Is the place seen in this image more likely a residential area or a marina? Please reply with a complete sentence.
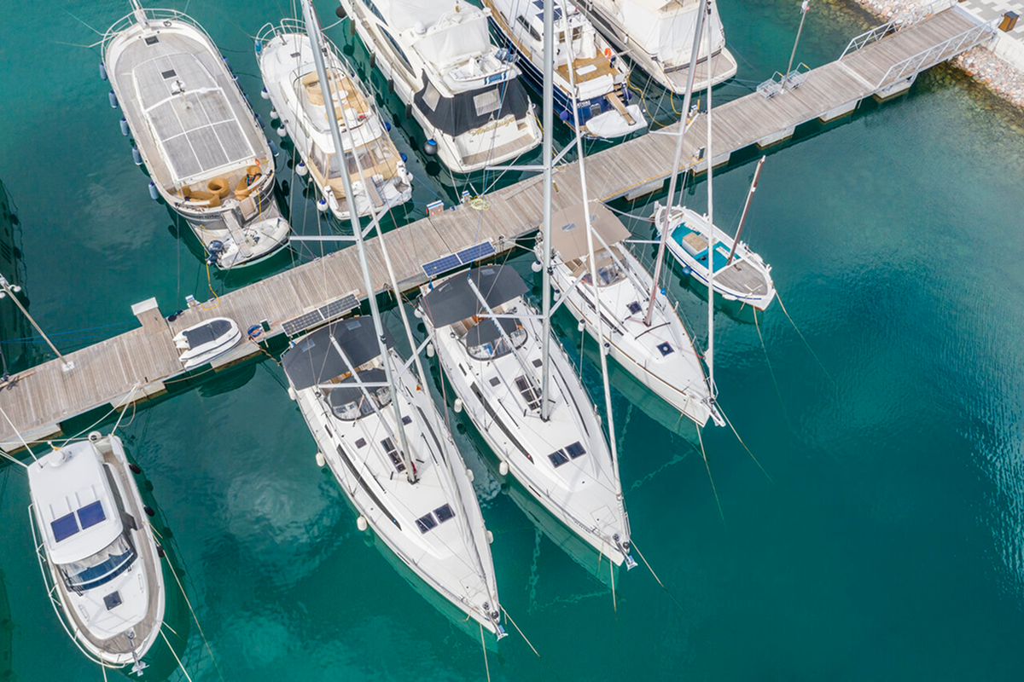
This image shows a marina.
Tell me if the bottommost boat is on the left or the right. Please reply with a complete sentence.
It is on the left.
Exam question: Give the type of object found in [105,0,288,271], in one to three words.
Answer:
boat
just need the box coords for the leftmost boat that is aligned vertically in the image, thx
[28,423,165,682]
